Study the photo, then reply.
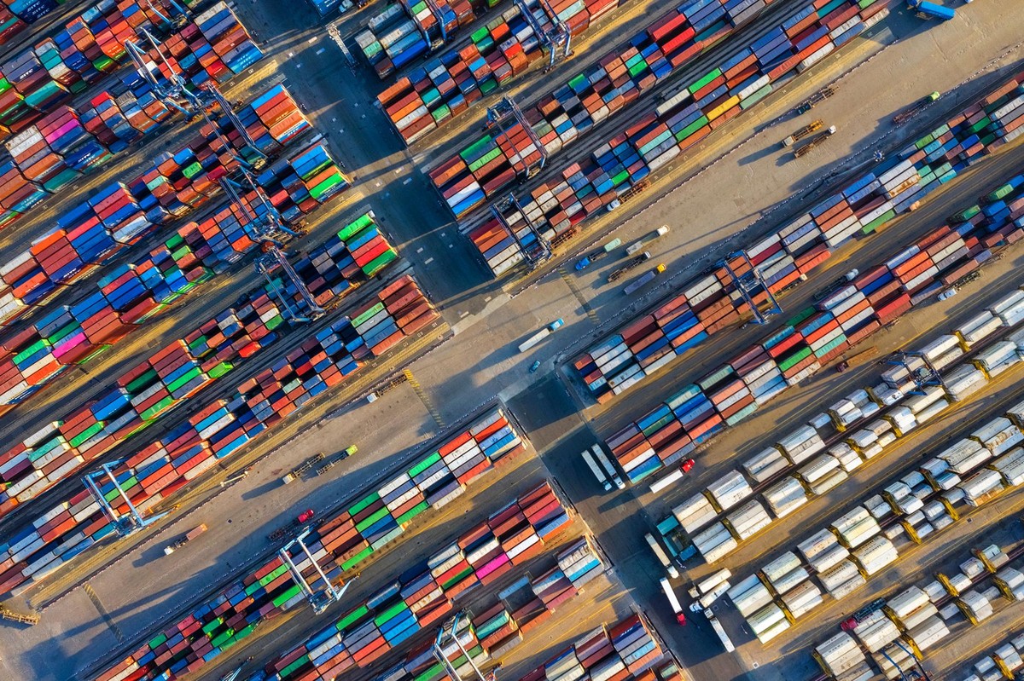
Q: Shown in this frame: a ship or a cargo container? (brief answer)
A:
cargo container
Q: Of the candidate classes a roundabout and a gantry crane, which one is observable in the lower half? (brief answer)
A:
gantry crane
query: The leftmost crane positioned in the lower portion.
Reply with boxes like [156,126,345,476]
[81,449,180,541]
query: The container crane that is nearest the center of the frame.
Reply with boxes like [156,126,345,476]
[488,188,556,277]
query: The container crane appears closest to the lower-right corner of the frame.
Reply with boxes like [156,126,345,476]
[862,636,932,681]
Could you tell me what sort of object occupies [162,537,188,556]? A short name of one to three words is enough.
vehicle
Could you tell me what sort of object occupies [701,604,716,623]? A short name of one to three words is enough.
vehicle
